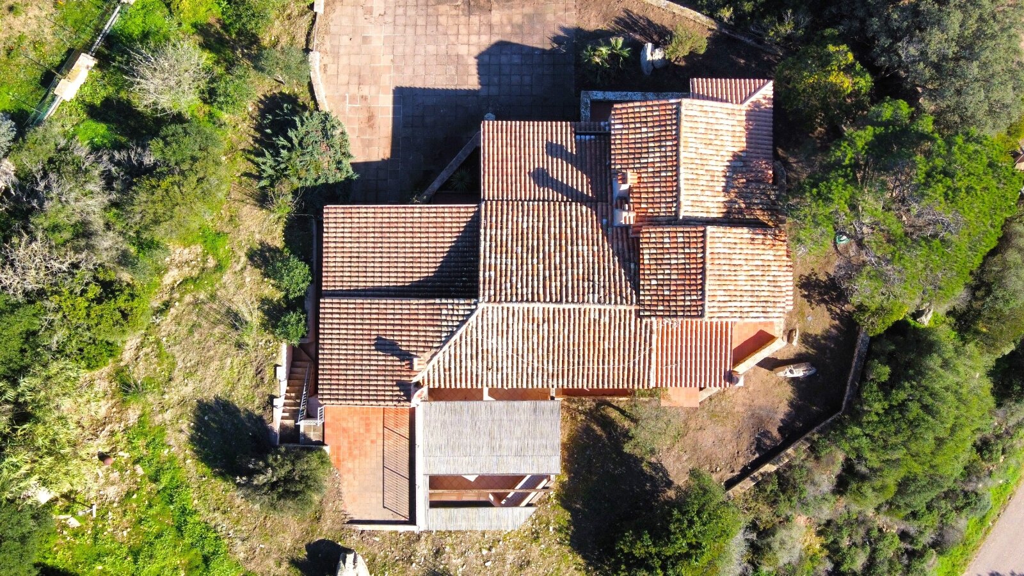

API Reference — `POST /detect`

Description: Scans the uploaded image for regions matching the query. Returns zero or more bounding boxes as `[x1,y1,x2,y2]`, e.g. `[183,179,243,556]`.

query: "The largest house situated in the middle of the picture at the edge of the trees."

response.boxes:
[315,75,798,408]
